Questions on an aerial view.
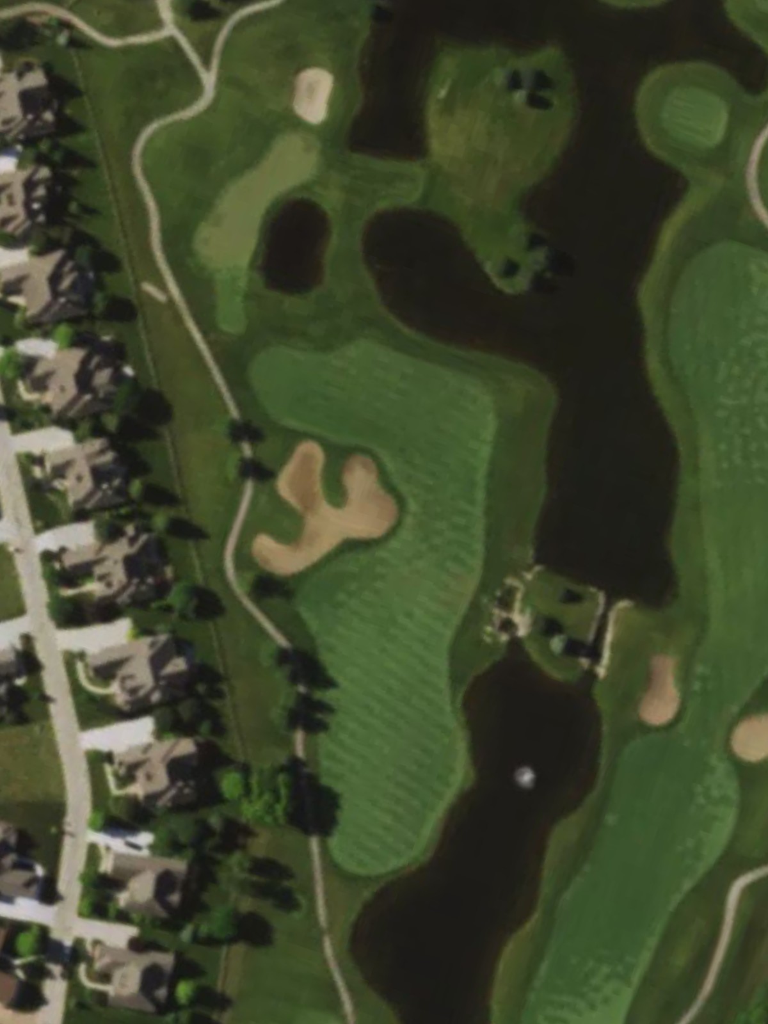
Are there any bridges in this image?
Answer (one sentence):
No, the photo shows no bridge.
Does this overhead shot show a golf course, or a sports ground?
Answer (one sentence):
What you see here is a golf course.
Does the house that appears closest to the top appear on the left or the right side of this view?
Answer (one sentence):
You can find the house that appears closest to the top on the left side of the picture.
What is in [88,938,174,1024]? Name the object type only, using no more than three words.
house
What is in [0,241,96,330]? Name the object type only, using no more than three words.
house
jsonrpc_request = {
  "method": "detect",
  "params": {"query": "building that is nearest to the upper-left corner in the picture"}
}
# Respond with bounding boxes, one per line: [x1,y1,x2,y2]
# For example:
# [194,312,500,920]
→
[0,57,62,144]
